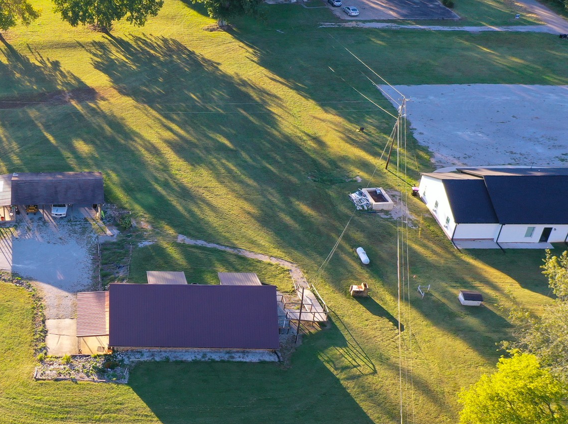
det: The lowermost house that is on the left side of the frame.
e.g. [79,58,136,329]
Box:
[101,270,282,366]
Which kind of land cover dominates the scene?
grass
